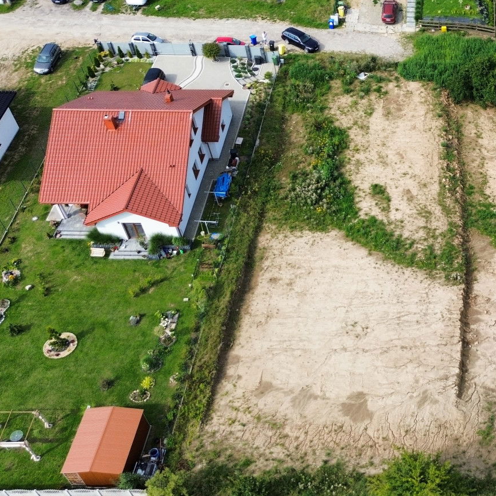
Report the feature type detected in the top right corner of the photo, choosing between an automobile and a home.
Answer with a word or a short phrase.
automobile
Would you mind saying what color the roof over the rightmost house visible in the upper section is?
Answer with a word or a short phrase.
red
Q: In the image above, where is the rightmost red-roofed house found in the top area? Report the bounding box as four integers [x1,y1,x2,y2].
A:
[39,76,235,259]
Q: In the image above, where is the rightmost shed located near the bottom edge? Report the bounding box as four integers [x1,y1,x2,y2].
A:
[58,402,149,487]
